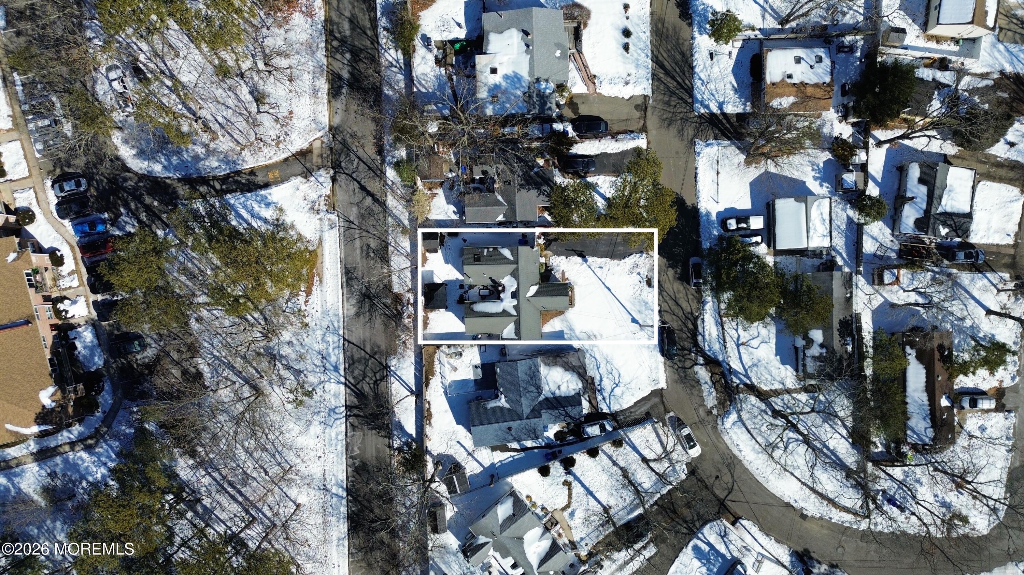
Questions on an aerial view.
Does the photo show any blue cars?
Yes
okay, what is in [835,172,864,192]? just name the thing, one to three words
shed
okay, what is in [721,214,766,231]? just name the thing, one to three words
vehicle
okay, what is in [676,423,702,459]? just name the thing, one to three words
car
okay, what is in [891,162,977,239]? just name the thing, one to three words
house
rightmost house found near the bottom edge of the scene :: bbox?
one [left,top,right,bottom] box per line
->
[462,487,571,575]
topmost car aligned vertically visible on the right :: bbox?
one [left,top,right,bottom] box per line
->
[688,255,705,290]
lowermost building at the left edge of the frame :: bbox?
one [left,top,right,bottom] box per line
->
[0,235,88,444]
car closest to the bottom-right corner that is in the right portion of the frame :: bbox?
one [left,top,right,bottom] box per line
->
[959,395,998,412]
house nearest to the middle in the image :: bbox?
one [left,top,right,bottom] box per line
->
[463,246,568,340]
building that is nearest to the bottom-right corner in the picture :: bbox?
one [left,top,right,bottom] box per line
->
[892,331,955,445]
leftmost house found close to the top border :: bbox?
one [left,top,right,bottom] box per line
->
[476,7,569,121]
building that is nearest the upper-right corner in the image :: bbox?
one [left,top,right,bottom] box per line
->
[927,0,996,39]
